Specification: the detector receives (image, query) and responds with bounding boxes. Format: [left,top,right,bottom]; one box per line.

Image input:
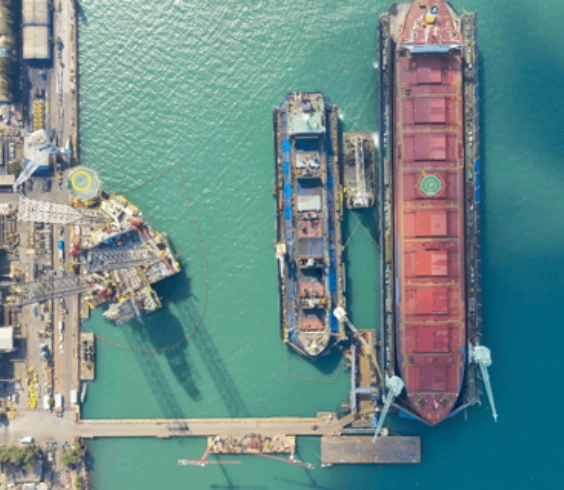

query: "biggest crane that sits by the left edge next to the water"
[13,138,75,190]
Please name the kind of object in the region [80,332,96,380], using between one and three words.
pier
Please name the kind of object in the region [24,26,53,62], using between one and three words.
building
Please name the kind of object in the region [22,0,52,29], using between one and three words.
building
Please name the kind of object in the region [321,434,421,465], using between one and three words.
ship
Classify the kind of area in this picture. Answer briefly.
port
